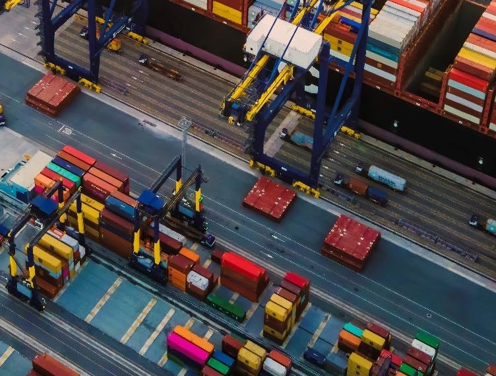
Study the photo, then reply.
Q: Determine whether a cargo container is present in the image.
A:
Yes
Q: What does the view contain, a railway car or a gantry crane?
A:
gantry crane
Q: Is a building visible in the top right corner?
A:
No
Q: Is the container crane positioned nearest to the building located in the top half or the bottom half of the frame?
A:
bottom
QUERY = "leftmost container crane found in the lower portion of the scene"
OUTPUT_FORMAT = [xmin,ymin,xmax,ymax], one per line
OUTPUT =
[2,181,89,310]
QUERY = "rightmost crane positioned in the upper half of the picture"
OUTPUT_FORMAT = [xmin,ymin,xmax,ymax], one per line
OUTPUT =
[224,0,372,196]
